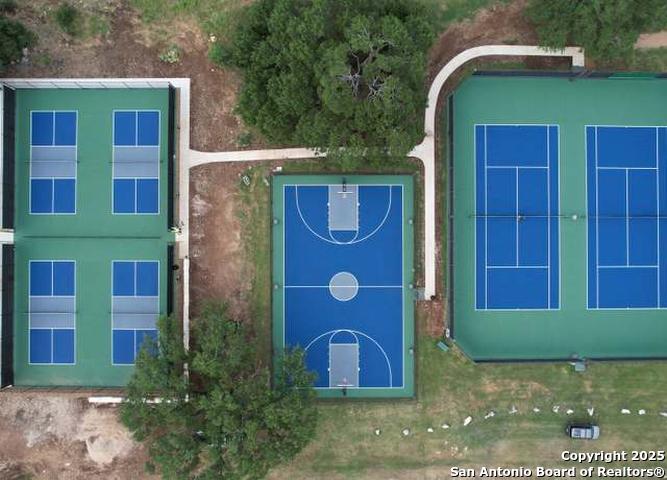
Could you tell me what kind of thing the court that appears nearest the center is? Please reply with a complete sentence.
What you see as the court that appears nearest the center is a basketball court.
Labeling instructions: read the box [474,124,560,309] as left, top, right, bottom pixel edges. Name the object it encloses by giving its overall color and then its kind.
blue tennis court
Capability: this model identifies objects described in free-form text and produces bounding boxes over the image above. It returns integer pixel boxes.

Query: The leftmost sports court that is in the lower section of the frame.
[29,261,76,365]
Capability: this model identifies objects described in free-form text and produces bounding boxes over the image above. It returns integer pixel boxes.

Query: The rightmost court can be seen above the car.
[584,126,667,309]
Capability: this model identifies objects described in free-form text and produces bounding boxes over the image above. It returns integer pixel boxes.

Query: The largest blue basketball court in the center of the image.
[272,174,415,398]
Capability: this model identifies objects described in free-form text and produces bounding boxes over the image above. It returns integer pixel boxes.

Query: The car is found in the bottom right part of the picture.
[565,422,599,440]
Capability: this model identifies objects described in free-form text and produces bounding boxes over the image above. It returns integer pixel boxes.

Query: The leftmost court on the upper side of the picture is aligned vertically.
[29,111,77,214]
